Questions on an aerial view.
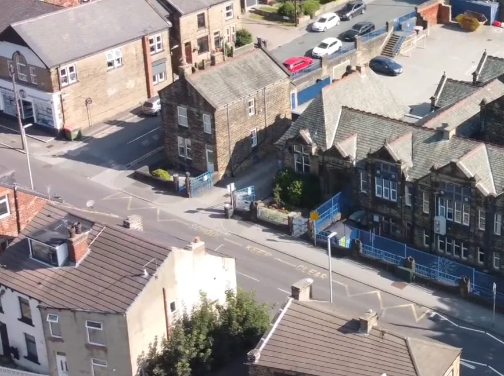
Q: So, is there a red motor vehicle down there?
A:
Yes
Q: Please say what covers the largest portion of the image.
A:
buildings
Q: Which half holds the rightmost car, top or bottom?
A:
top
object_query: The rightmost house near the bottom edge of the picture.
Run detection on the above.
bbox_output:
[246,247,466,376]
